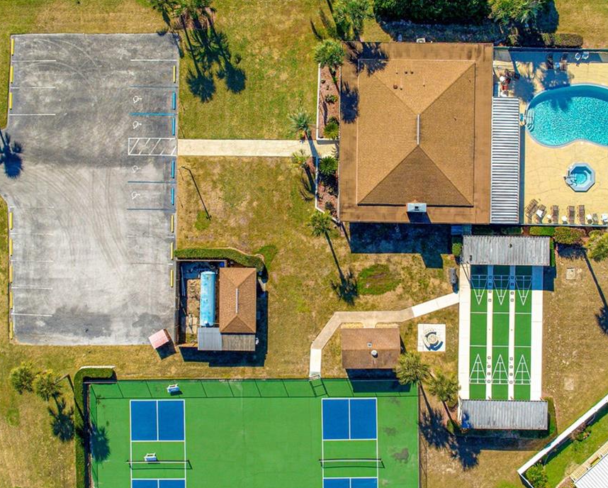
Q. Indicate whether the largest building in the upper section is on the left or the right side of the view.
right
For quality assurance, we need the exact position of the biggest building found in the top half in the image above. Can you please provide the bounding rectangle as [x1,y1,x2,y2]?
[338,42,493,224]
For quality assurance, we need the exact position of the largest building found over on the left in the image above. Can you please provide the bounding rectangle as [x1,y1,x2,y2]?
[198,267,257,350]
